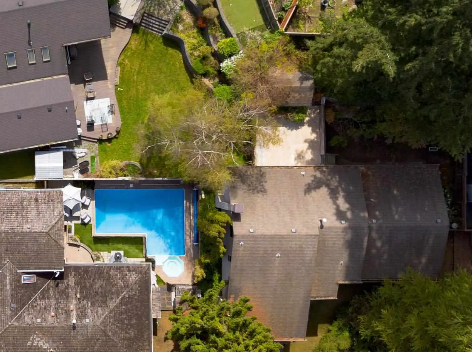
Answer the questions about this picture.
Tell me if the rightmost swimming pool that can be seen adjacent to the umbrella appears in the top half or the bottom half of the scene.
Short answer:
bottom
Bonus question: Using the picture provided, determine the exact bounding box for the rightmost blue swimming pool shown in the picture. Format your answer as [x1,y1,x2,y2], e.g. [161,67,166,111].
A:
[79,183,201,281]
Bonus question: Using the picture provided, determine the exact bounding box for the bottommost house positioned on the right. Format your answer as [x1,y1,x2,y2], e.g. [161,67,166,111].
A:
[213,165,449,342]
